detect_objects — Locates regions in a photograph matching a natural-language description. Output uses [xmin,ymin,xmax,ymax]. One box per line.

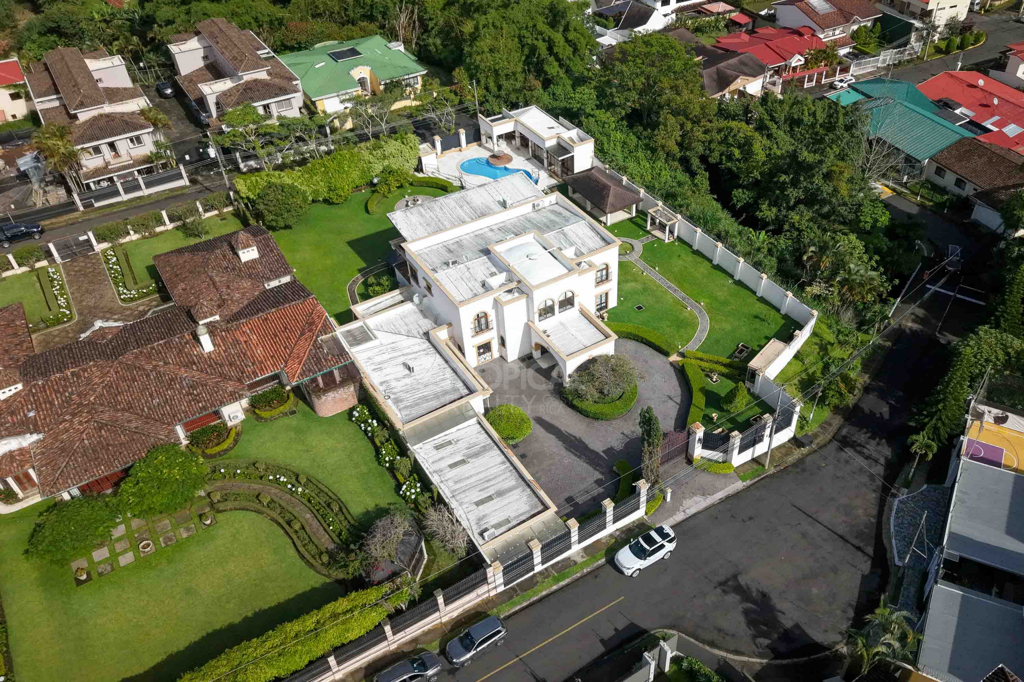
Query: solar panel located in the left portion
[332,45,364,63]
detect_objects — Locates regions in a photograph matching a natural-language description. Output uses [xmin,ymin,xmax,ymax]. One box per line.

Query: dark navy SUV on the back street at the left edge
[0,224,42,246]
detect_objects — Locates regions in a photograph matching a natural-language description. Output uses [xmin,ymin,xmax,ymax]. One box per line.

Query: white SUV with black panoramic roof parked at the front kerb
[611,526,679,577]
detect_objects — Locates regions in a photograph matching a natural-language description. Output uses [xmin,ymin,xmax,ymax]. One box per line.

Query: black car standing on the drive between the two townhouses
[151,78,167,97]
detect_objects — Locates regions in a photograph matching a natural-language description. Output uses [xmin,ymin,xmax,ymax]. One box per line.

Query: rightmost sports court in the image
[962,366,1024,477]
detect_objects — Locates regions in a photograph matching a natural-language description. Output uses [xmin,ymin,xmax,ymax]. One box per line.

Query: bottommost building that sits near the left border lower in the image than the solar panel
[0,221,356,523]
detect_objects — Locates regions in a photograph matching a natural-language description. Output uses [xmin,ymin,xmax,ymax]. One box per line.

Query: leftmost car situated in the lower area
[361,652,433,682]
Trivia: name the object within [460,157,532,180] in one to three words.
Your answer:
swimming pool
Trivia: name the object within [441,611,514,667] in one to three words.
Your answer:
car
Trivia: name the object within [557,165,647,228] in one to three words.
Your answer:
building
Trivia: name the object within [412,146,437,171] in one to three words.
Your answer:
shed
